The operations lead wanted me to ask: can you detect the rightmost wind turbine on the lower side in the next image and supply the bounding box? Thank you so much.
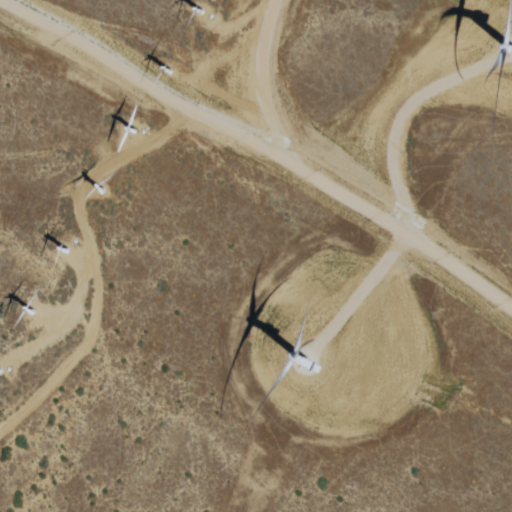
[249,296,322,427]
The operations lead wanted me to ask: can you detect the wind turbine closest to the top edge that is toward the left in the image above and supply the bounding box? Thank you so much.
[184,0,206,30]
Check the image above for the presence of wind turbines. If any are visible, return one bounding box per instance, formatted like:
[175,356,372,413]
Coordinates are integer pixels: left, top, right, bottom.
[81,170,111,198]
[115,106,139,150]
[249,296,322,427]
[48,241,70,268]
[151,60,174,88]
[14,287,36,328]
[184,0,206,30]
[487,0,512,117]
